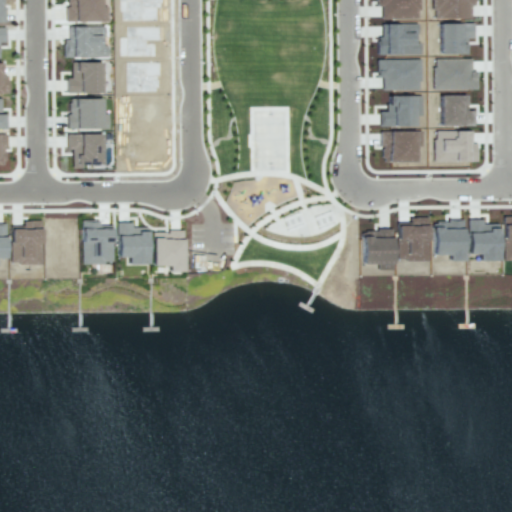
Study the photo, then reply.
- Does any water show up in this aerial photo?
Yes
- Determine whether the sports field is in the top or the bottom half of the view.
top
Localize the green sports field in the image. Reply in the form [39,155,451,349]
[214,0,327,178]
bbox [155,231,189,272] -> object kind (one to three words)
house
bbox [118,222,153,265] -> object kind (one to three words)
house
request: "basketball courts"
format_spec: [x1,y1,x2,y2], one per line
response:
[248,106,290,172]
